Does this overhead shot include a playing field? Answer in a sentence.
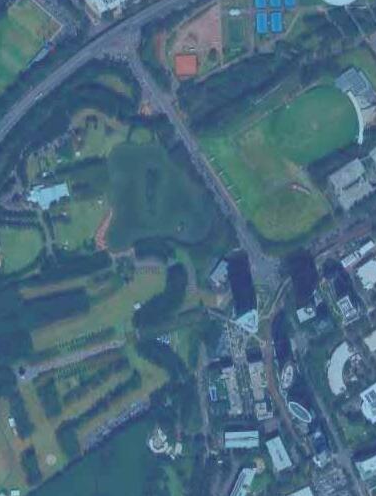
Yes, there's a playing field down there.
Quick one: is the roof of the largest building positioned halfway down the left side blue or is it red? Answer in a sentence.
The roof of the largest building positioned halfway down the left side looks blue in the image.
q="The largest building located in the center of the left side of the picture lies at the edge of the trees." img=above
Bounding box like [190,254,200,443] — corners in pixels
[28,183,69,209]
